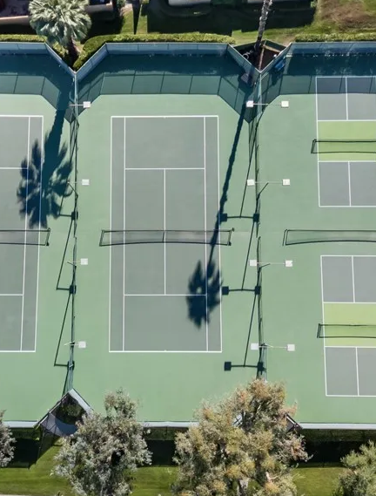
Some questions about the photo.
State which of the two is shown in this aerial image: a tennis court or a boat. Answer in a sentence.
The one in the frame is a tennis court.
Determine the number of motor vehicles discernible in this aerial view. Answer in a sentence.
There are no motor vehicles in this view.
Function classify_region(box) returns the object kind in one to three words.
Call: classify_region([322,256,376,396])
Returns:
sports court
